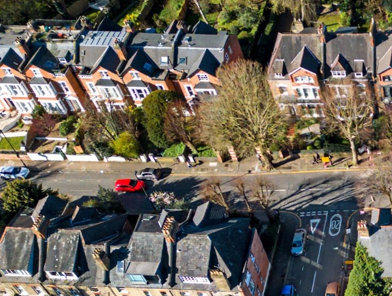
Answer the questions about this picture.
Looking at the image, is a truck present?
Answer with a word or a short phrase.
No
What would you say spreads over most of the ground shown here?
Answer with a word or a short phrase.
buildings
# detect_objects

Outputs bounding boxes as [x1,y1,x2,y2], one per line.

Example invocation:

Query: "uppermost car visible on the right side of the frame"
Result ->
[287,229,310,257]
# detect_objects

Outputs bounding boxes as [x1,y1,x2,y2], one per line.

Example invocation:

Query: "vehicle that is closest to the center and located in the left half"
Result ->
[132,168,168,183]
